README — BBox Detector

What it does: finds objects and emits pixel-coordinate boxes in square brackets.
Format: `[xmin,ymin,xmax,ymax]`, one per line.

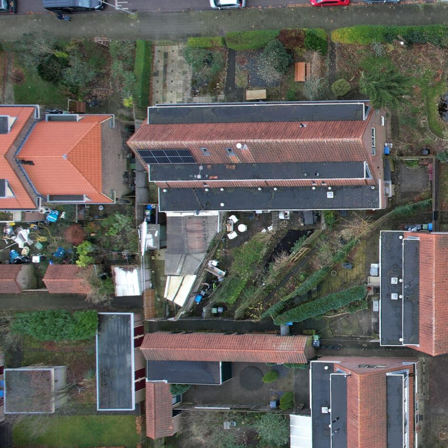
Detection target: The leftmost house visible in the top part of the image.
[0,105,71,212]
